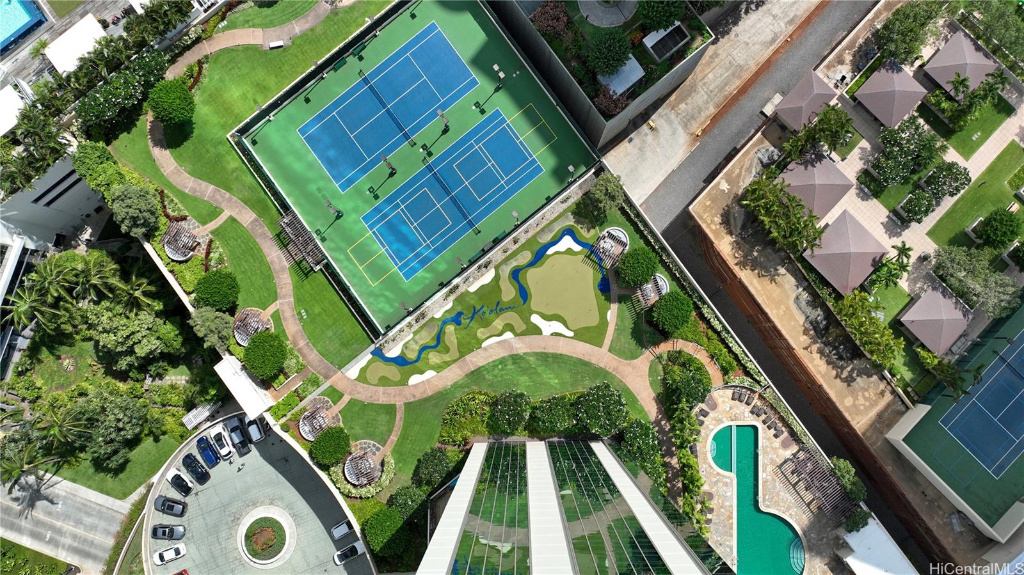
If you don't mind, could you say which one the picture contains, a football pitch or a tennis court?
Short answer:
tennis court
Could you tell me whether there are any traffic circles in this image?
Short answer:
Yes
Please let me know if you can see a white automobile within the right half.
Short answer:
No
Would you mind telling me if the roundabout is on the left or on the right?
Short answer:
left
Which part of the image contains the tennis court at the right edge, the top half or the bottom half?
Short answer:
bottom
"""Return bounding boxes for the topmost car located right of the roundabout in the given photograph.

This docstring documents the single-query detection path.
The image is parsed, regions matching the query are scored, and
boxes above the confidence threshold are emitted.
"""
[328,518,354,542]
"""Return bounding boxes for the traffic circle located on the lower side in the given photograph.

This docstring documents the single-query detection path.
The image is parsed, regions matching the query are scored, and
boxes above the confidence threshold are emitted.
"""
[236,507,296,568]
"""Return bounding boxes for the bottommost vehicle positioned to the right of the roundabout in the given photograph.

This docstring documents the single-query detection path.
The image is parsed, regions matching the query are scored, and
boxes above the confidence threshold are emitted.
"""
[331,540,366,569]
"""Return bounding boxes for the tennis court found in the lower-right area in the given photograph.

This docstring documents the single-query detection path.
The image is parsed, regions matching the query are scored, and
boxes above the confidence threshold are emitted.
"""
[884,293,1024,545]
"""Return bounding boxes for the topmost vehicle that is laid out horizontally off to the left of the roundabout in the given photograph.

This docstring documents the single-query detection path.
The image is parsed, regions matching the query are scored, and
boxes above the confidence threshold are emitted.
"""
[154,498,190,516]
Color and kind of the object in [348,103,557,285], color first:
blue tennis court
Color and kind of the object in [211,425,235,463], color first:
white car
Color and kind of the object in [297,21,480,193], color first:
blue tennis court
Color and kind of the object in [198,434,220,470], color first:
blue car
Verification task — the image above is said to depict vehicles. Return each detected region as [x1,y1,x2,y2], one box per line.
[167,467,195,500]
[185,451,211,487]
[331,540,366,569]
[152,524,187,541]
[154,498,190,516]
[328,518,354,542]
[198,434,220,470]
[228,417,252,458]
[153,541,189,565]
[211,425,235,463]
[242,416,269,446]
